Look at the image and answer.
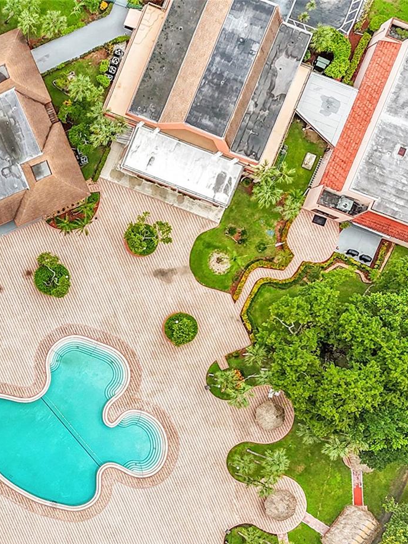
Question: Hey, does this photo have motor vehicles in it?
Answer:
No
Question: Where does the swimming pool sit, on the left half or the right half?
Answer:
left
